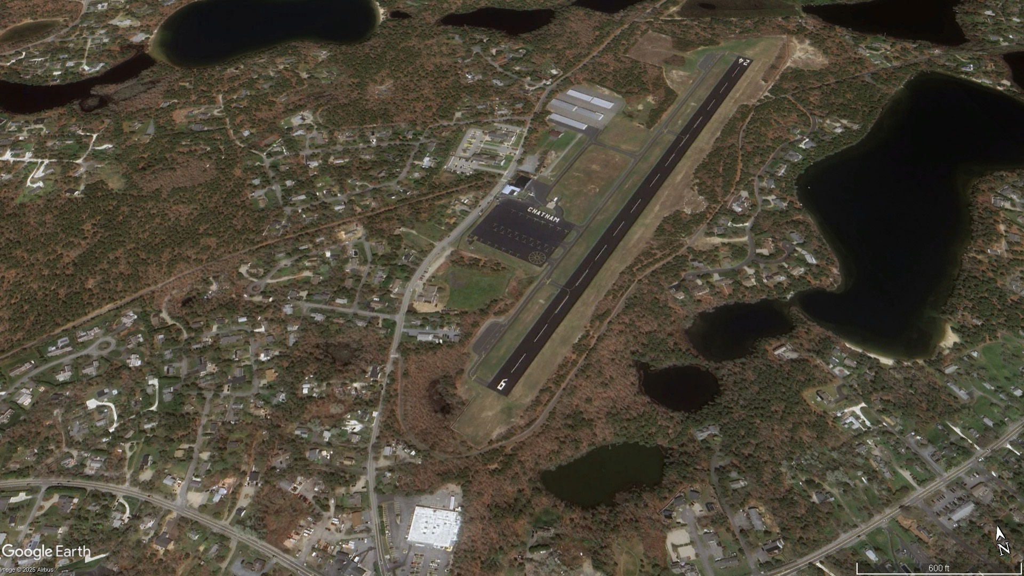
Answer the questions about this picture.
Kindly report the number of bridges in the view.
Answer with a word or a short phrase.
0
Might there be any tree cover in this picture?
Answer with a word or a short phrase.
Yes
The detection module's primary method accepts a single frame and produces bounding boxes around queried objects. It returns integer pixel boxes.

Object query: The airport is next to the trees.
[467,50,753,396]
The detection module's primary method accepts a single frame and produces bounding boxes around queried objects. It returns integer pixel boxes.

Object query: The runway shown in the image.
[487,55,753,396]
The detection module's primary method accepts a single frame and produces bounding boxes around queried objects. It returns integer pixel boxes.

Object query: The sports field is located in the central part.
[446,269,510,310]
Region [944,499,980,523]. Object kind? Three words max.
house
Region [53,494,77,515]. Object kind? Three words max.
house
